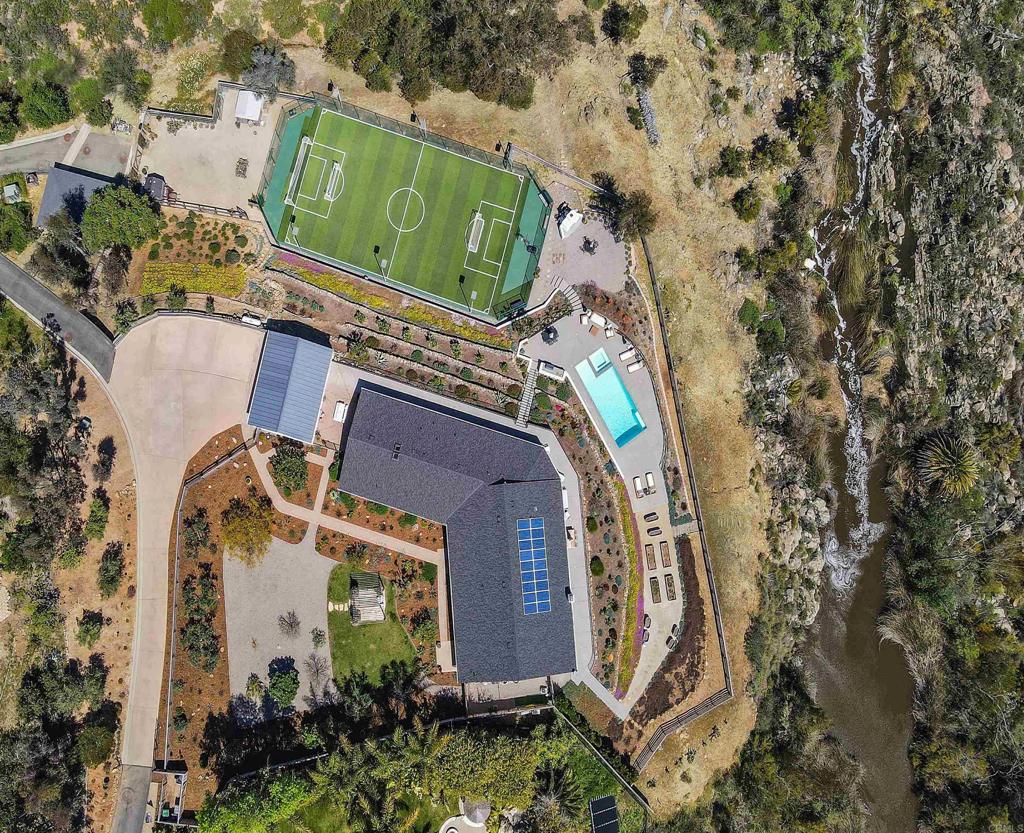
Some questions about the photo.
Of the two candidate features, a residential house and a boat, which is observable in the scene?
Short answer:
residential house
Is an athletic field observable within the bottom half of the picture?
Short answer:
No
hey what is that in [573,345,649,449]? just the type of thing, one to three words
swimming pool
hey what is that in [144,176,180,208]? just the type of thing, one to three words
shed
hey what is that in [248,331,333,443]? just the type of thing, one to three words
building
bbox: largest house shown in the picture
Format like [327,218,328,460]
[338,388,576,683]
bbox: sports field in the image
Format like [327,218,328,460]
[263,103,552,325]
